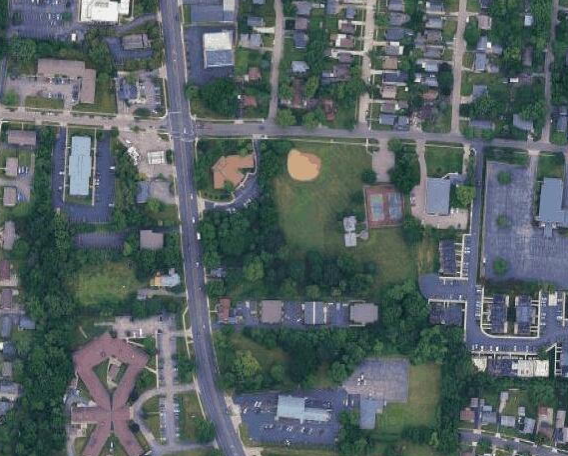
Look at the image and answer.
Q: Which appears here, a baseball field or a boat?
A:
baseball field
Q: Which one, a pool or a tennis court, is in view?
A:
tennis court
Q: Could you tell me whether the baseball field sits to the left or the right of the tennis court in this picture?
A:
to its left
